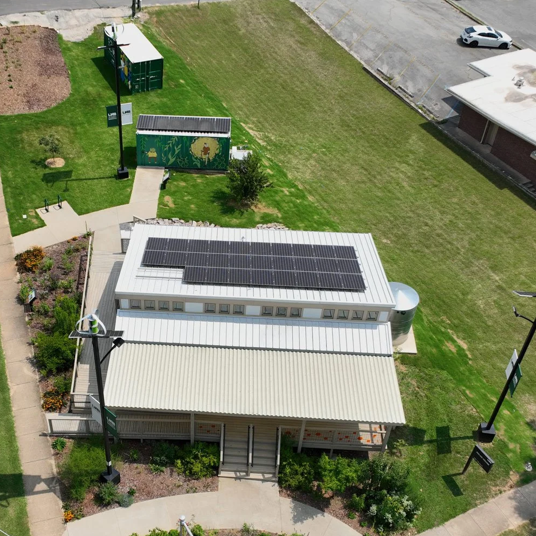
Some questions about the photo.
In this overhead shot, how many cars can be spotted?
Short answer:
1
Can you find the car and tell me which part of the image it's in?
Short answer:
top right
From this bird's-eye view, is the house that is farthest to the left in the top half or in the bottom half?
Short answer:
bottom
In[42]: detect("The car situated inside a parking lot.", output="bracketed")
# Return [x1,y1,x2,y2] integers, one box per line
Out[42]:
[460,21,523,49]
